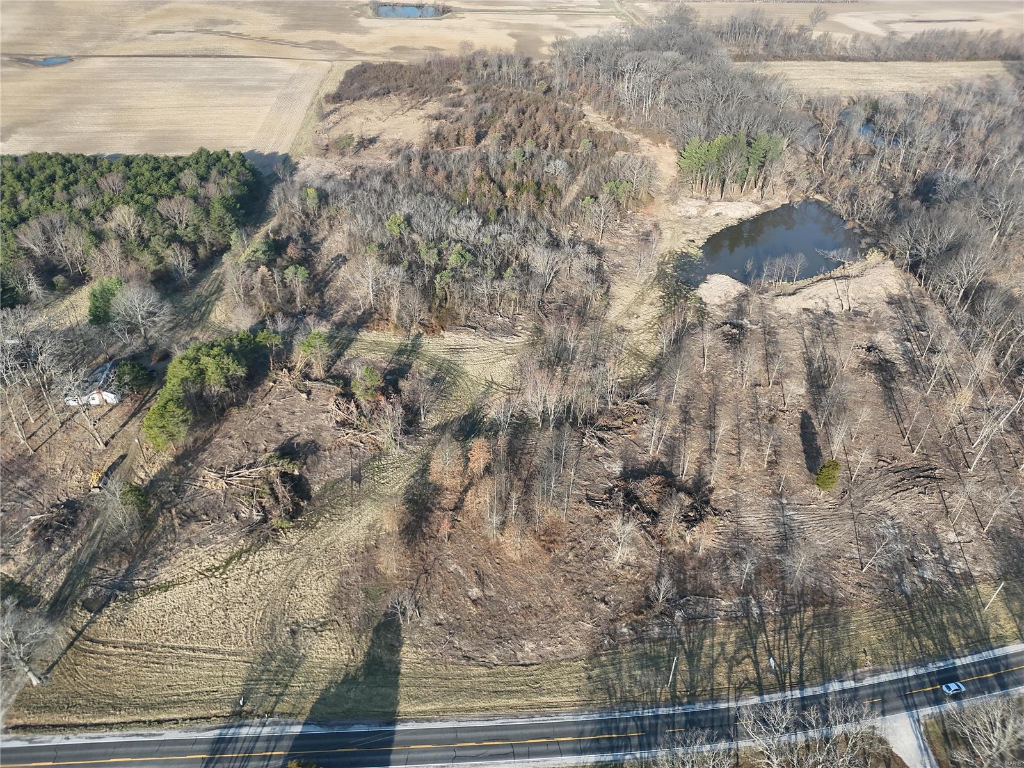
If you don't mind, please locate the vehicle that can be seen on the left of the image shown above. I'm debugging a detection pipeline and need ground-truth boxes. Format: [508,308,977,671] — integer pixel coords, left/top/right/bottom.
[83,472,106,491]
